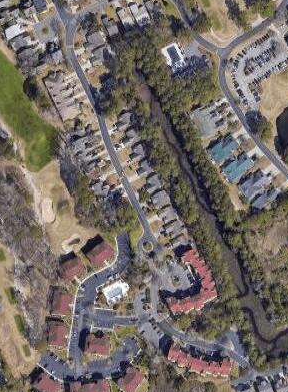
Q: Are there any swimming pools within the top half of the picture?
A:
Yes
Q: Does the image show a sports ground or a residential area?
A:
residential area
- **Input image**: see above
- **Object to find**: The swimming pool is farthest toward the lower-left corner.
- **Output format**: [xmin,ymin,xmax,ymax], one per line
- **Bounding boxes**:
[103,278,132,303]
